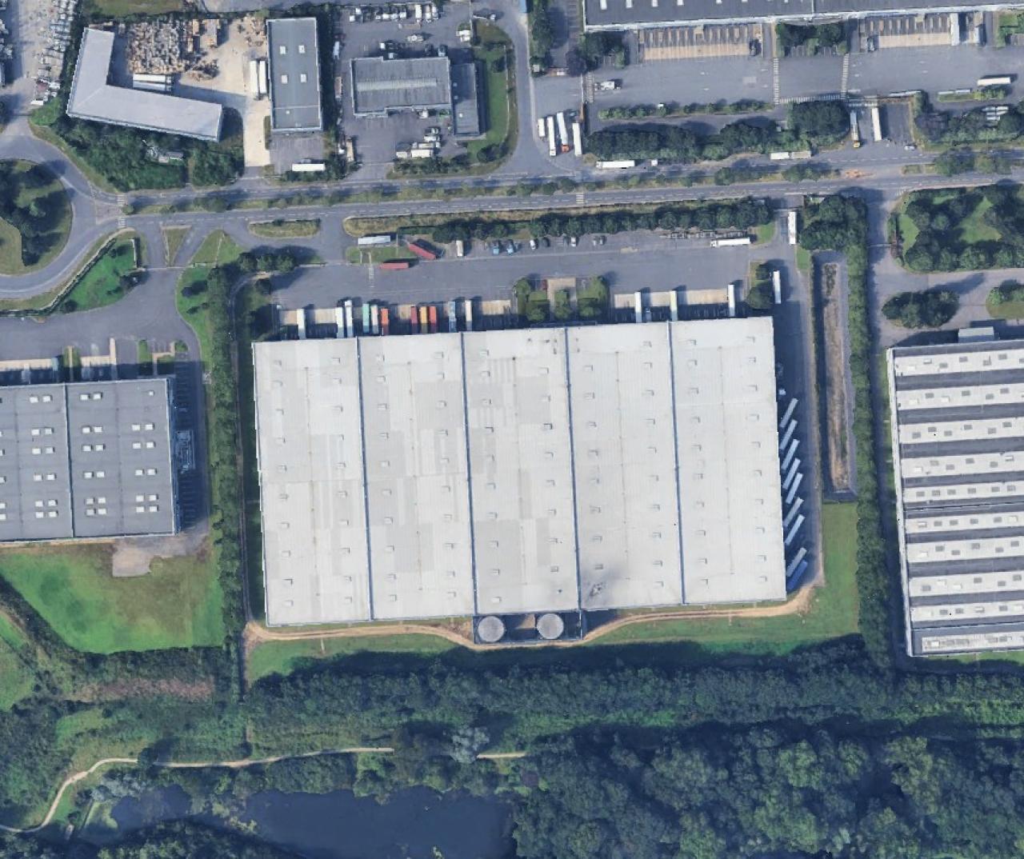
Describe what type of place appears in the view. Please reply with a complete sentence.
The picture captures an industrial area.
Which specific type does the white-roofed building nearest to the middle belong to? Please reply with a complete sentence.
The white-roofed building nearest to the middle appears to be a warehouse.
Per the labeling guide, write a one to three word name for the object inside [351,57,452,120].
building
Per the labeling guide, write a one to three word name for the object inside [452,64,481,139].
building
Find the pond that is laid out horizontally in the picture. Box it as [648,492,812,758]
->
[96,786,517,859]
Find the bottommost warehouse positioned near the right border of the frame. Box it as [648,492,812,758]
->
[883,327,1024,656]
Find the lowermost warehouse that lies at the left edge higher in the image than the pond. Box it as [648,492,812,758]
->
[0,378,181,543]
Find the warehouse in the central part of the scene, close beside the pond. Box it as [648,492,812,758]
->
[252,316,787,628]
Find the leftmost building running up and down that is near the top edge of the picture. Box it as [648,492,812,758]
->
[266,18,325,136]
